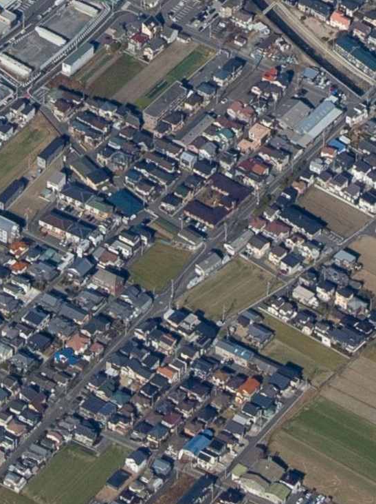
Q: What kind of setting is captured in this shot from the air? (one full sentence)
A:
The area seen from above is a residential area.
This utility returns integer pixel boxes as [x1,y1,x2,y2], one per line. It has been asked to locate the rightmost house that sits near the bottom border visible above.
[280,472,308,503]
